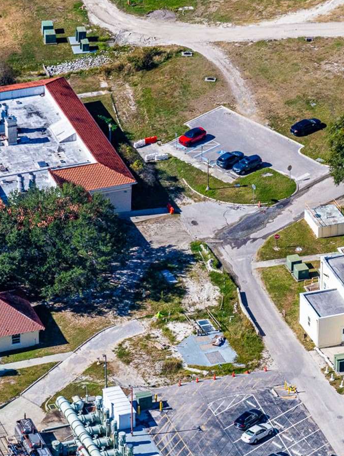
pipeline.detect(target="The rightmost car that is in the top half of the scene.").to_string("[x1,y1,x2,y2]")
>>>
[289,118,324,135]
